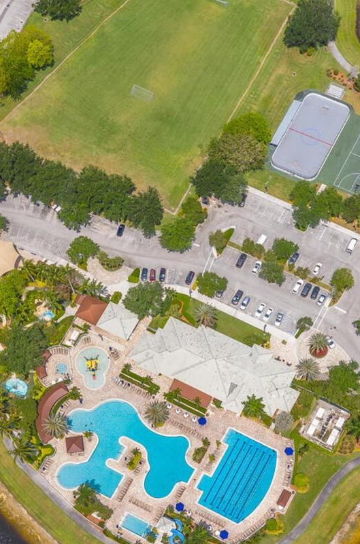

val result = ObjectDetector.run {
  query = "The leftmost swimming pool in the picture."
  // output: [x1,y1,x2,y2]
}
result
[4,378,29,397]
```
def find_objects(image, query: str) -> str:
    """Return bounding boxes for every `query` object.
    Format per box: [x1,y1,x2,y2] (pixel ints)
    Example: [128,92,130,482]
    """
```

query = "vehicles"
[141,268,148,282]
[289,252,299,265]
[116,223,124,238]
[236,253,246,268]
[312,262,322,277]
[239,193,247,207]
[346,238,357,253]
[292,279,303,294]
[274,312,284,326]
[215,287,225,301]
[240,296,251,311]
[184,270,195,285]
[302,283,311,298]
[324,334,337,349]
[310,285,320,300]
[159,268,166,282]
[316,293,326,308]
[232,289,242,304]
[252,260,262,275]
[149,268,156,282]
[255,302,264,317]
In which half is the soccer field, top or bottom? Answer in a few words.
top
